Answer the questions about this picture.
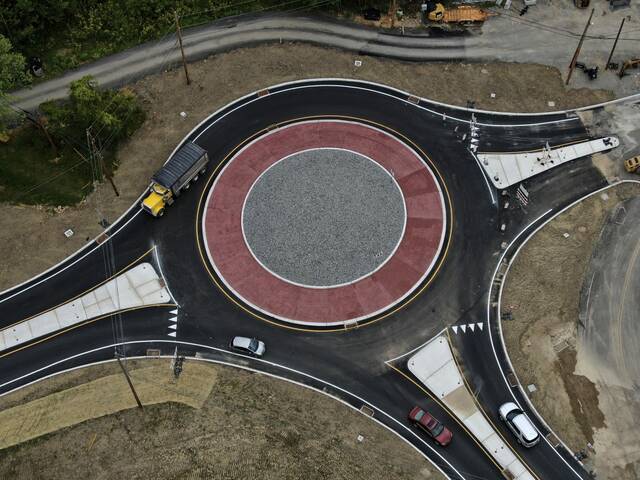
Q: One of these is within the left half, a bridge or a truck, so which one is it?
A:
truck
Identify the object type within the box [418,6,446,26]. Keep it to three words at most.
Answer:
work vehicle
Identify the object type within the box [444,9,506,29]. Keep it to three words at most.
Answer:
trailer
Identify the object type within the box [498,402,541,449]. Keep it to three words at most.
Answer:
car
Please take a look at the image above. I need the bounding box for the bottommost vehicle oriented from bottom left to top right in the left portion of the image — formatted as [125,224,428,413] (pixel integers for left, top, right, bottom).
[141,143,210,218]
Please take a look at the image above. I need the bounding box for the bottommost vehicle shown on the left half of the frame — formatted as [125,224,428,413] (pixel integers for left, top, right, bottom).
[230,336,266,358]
